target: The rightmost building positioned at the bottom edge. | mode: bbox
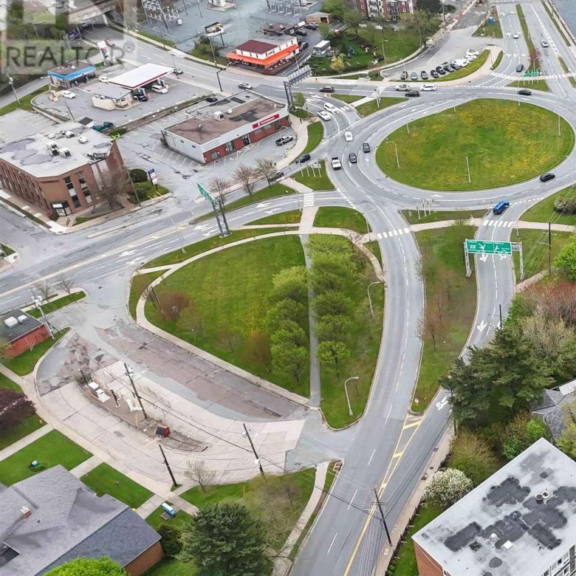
[411,435,576,576]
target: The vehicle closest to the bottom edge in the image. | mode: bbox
[492,201,510,214]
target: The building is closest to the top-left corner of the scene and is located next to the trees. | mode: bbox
[46,60,98,91]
